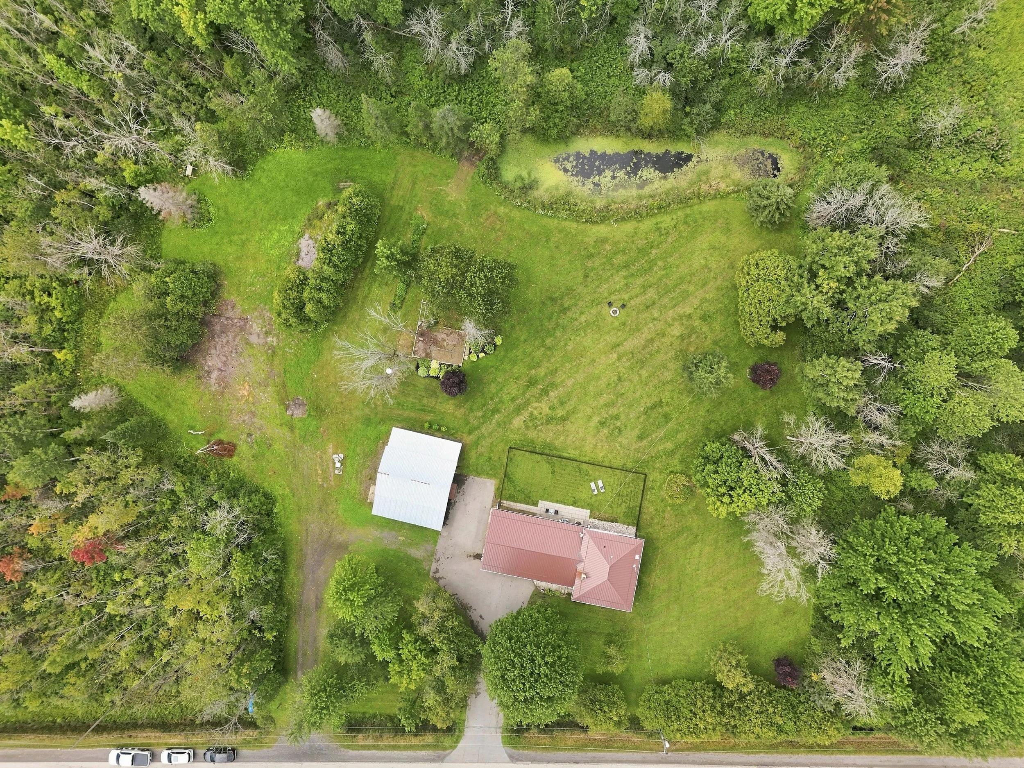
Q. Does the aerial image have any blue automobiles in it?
No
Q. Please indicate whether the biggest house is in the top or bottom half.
bottom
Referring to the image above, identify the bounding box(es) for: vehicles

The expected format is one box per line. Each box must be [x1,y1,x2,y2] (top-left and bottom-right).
[204,746,237,765]
[161,747,196,766]
[109,747,154,768]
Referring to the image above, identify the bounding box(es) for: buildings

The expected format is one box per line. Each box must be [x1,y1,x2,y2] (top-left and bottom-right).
[480,501,645,612]
[372,427,462,531]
